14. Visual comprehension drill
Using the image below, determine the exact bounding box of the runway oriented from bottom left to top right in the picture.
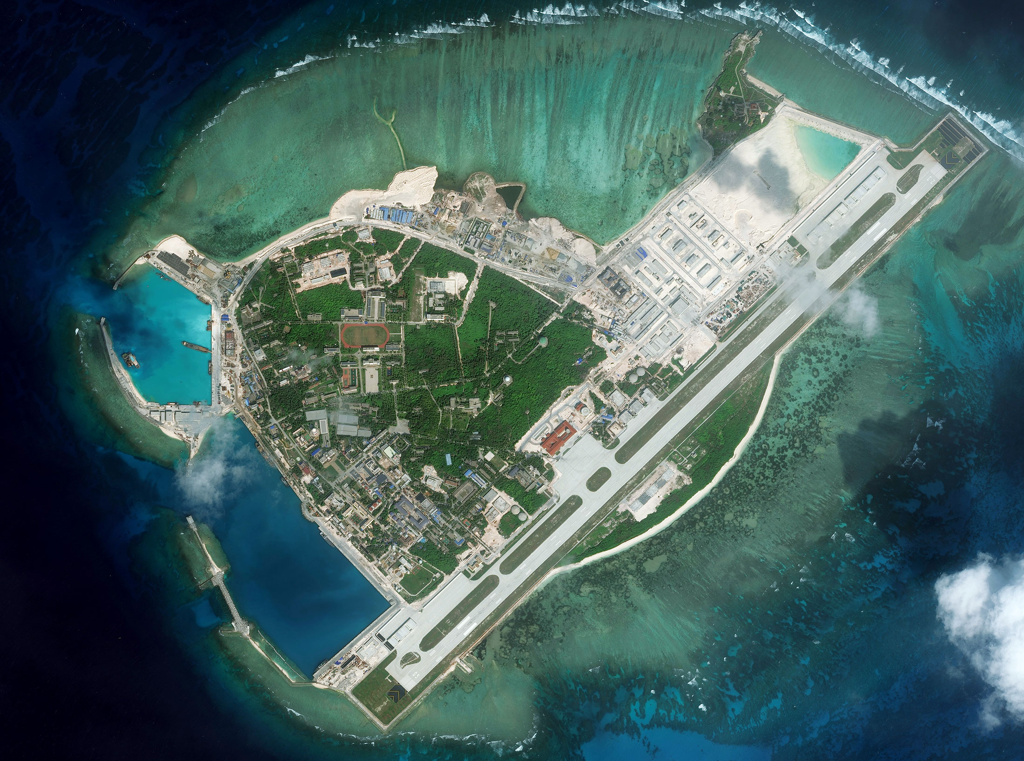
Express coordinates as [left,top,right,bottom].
[399,162,948,692]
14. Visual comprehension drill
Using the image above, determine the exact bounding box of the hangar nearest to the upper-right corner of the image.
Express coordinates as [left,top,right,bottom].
[845,166,886,207]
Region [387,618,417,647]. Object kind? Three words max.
hangar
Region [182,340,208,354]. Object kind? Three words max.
ship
